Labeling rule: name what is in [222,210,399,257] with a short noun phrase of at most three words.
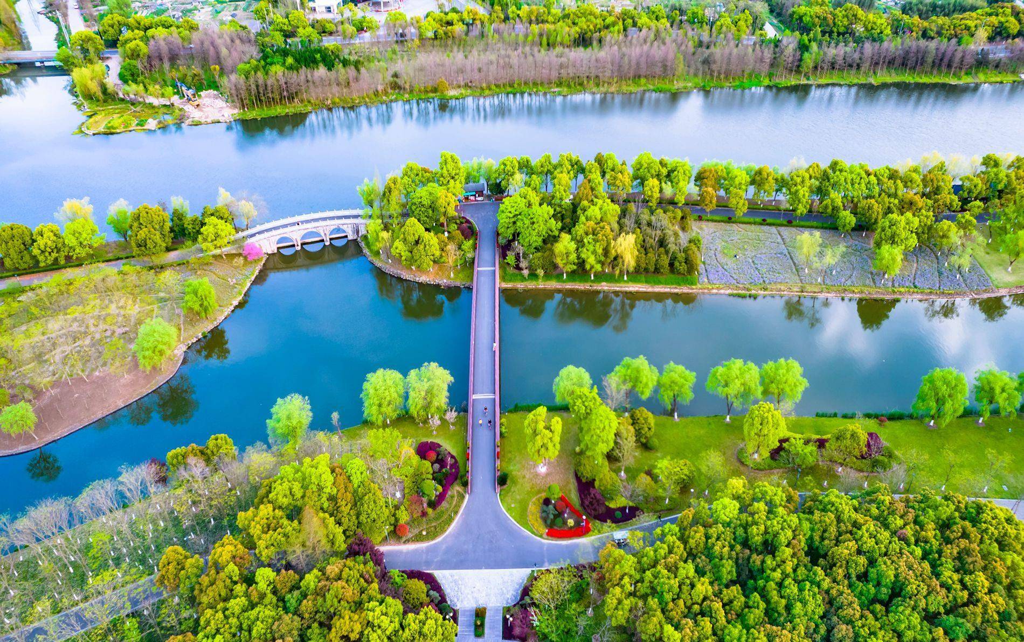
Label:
bridge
